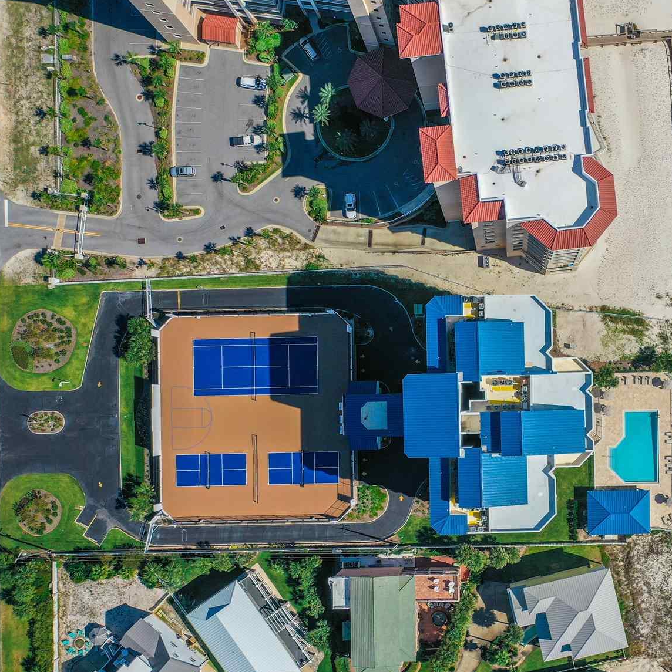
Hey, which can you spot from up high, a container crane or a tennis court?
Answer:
tennis court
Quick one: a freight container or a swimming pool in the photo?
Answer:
swimming pool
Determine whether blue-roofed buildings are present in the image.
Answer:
Yes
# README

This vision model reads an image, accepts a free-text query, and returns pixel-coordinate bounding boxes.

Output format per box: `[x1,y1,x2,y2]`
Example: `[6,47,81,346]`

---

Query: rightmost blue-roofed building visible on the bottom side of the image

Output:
[586,491,650,539]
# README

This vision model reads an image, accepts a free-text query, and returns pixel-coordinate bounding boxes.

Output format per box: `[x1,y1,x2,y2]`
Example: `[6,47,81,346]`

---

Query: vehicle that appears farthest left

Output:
[170,164,196,177]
